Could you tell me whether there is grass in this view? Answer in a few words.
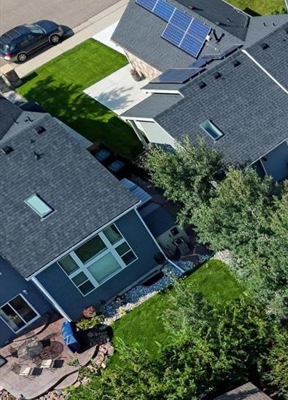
Yes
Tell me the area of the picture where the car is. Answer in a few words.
top left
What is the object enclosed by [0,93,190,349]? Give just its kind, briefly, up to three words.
house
